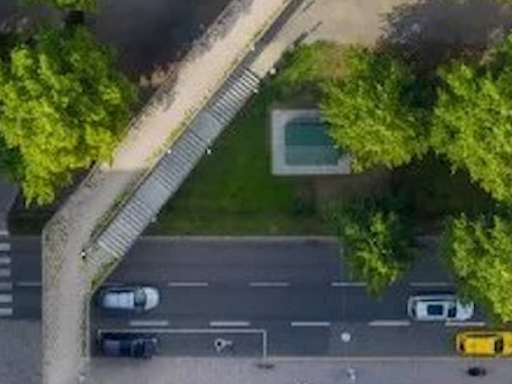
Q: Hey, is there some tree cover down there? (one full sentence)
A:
Yes, some tree cover is visible.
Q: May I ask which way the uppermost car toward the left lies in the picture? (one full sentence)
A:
From this overhead view, the uppermost car toward the left appears to run from side to side.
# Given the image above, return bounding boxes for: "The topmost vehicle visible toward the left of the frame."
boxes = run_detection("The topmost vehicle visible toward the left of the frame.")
[102,282,159,311]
